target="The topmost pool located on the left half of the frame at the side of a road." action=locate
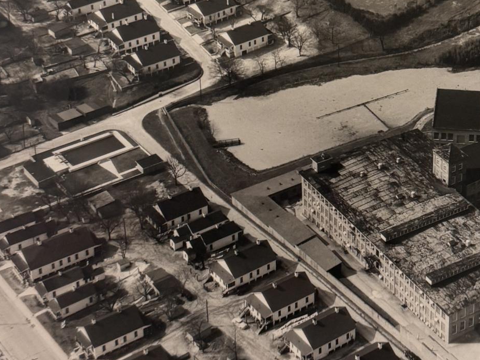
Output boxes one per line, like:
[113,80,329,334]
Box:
[52,130,134,171]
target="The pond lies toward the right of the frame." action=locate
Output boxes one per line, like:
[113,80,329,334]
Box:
[205,68,480,170]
